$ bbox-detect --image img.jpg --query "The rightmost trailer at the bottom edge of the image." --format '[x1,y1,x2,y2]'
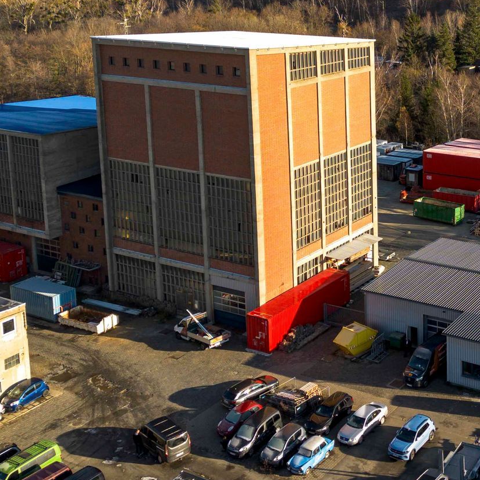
[442,439,480,480]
